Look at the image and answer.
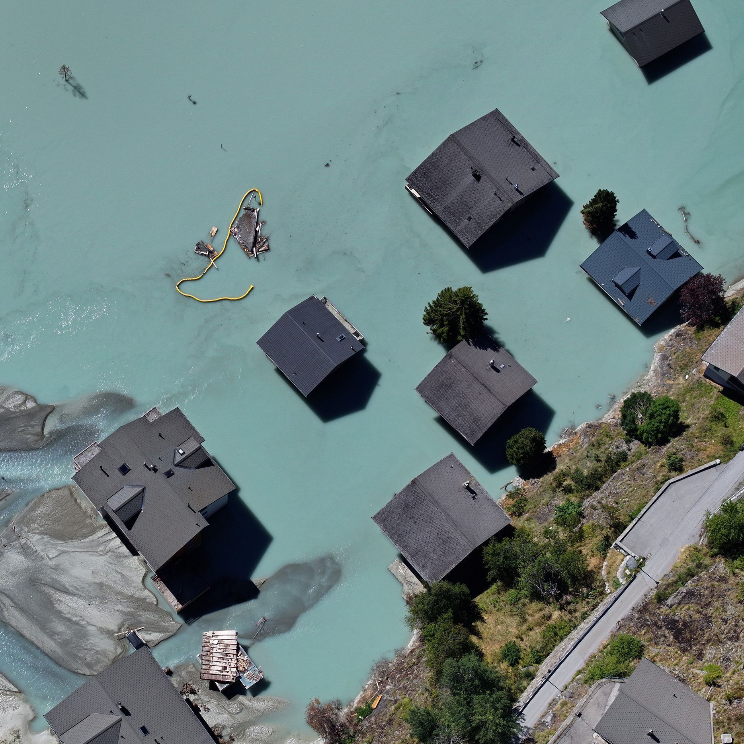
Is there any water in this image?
Yes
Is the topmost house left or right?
right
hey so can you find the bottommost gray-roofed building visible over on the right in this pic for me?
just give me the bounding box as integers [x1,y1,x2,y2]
[592,657,711,744]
